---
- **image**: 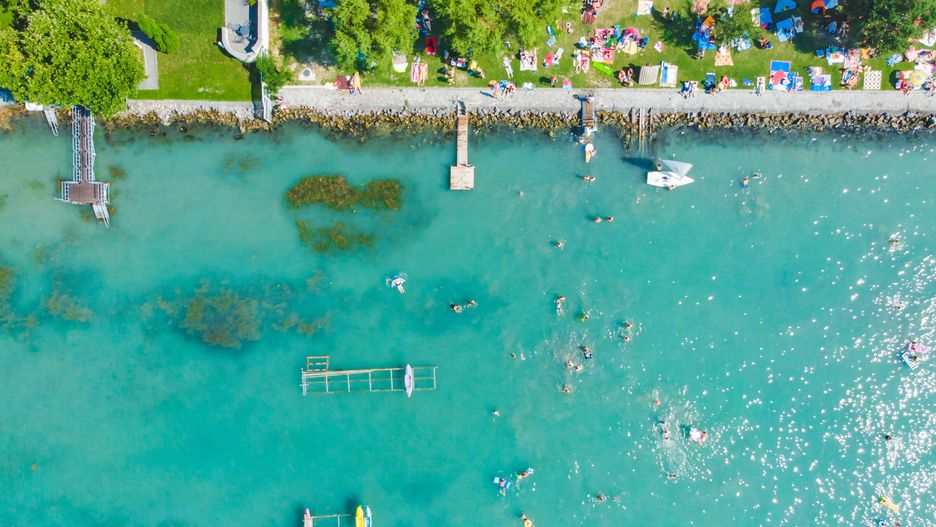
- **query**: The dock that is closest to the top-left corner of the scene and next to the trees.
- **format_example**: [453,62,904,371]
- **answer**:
[57,105,116,229]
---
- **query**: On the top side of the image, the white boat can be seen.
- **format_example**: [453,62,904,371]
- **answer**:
[646,158,696,187]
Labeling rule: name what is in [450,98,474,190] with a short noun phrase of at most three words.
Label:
pier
